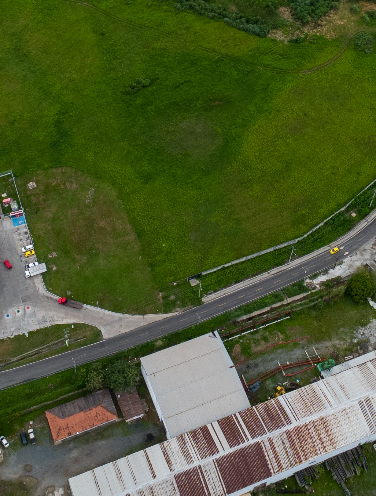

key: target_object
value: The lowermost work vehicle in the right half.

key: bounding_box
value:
[273,376,288,397]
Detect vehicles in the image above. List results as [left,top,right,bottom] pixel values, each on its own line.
[20,430,27,446]
[24,260,37,271]
[329,247,340,254]
[20,244,33,253]
[0,434,11,450]
[58,293,82,310]
[24,250,35,256]
[25,261,47,274]
[4,259,12,271]
[273,376,288,397]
